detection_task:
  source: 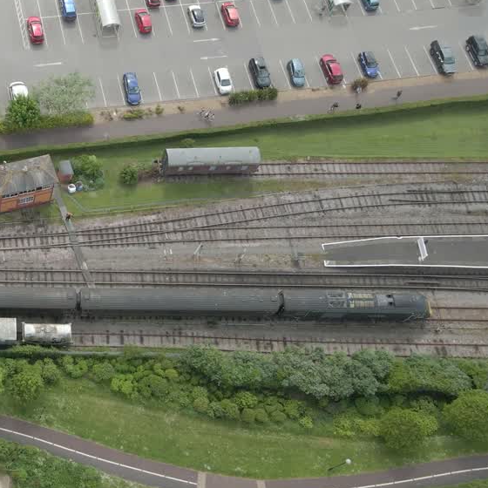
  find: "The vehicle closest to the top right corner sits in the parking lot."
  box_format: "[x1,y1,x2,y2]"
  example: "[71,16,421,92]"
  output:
[462,36,488,68]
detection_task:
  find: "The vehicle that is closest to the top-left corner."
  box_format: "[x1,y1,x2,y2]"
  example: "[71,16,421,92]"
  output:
[27,19,44,45]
